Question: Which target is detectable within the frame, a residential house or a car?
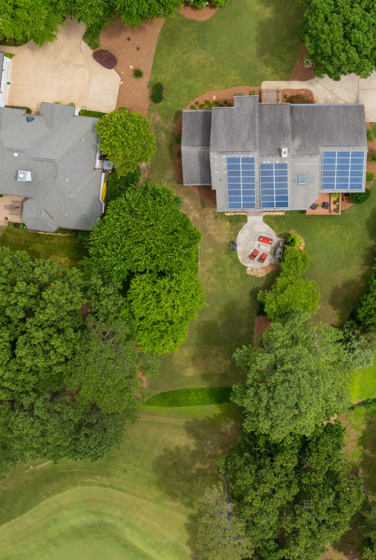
residential house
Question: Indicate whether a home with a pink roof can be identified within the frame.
No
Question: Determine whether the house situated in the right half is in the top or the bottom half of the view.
top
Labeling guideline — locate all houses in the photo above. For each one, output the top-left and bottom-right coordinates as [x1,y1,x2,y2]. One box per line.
[0,51,105,233]
[181,95,367,213]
